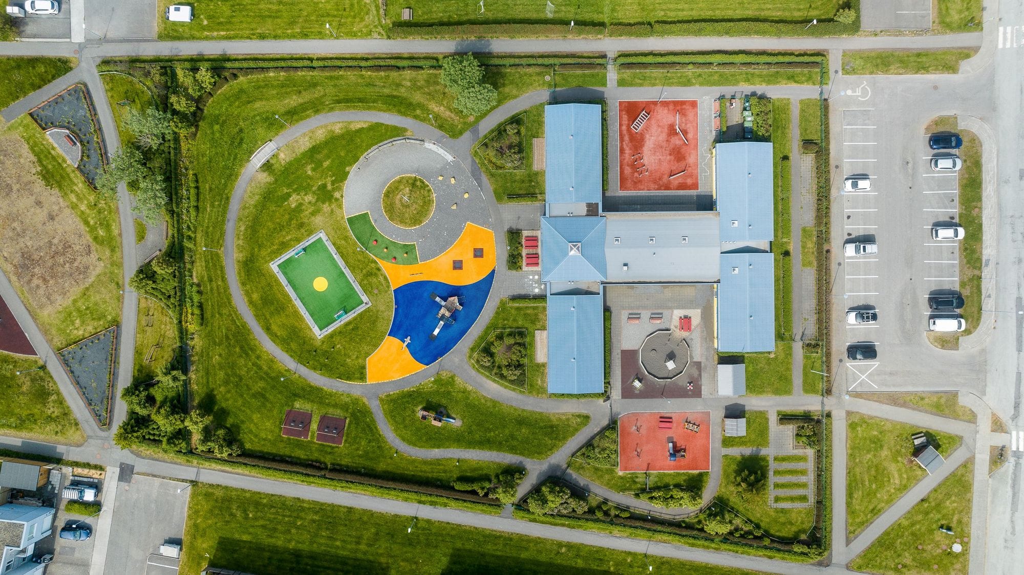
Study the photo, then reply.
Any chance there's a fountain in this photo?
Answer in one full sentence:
No, no fountain is visible in the scene.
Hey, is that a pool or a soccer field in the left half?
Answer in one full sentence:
What appears in the left half is a soccer field.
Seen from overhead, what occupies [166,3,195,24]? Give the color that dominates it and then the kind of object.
white vehicle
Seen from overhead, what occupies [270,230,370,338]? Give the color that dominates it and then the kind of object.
green soccer field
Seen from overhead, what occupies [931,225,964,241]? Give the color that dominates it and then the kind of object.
white car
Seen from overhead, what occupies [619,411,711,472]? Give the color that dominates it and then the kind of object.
red sports court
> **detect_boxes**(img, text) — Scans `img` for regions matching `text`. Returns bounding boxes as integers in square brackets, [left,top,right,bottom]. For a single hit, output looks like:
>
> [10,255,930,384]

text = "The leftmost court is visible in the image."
[0,296,37,356]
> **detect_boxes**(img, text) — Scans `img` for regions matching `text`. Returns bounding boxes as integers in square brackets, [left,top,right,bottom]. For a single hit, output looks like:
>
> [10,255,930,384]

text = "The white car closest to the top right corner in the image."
[930,156,961,171]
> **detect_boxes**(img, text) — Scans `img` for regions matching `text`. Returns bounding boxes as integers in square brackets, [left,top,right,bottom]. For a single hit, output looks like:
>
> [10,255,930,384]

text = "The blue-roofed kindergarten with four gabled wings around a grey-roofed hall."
[541,103,775,394]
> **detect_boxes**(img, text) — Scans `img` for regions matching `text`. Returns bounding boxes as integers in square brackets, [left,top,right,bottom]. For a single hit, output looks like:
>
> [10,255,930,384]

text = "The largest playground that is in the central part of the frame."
[336,136,497,383]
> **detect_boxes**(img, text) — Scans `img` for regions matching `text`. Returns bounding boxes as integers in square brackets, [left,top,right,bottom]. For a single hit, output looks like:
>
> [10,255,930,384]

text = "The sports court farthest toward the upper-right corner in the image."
[619,99,699,192]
